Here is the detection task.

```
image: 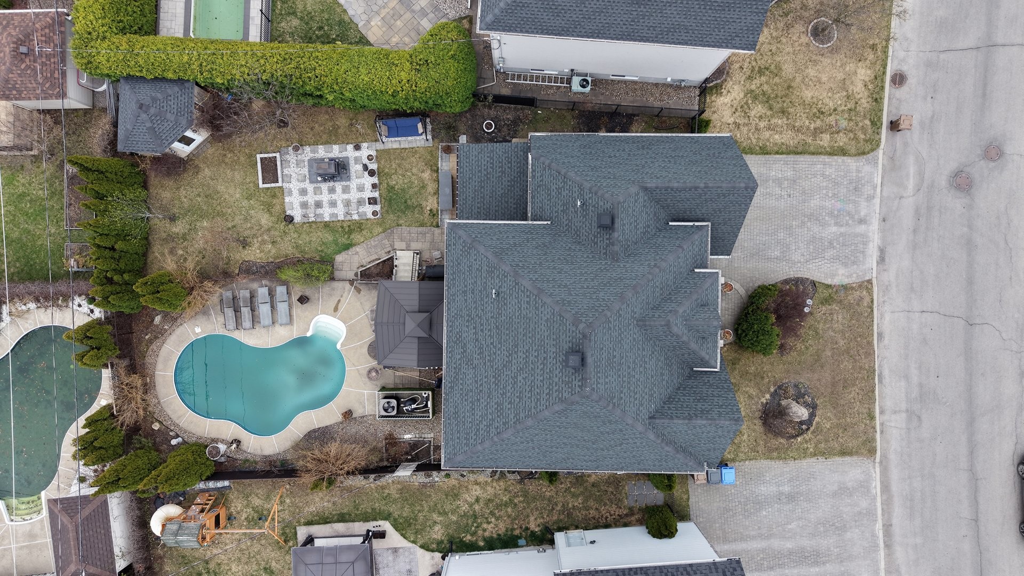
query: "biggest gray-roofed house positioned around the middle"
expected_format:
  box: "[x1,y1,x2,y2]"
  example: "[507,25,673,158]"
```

[443,131,759,475]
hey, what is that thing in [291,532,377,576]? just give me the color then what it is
gray gazebo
